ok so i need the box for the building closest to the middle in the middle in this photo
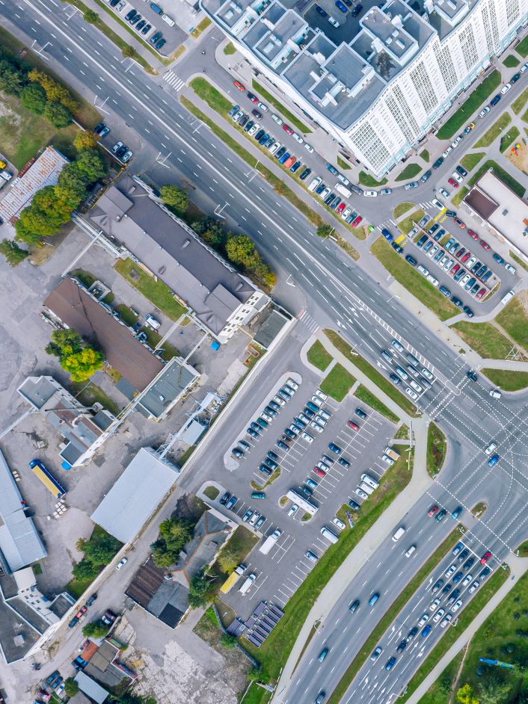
[253,309,291,348]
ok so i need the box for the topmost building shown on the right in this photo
[198,0,528,175]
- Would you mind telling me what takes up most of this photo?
paved ground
